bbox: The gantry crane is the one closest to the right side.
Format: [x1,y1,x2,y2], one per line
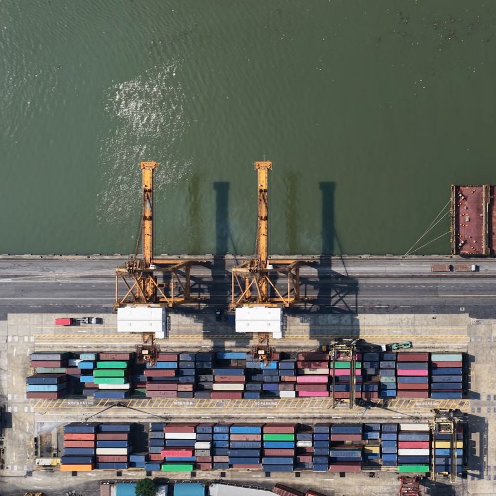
[427,404,461,482]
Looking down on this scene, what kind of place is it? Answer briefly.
port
